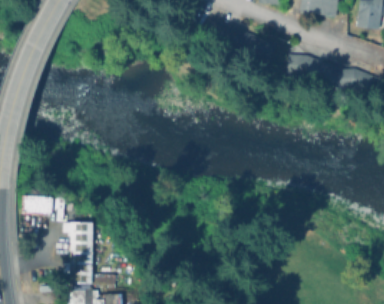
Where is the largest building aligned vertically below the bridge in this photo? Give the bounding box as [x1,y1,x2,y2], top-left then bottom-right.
[63,223,94,286]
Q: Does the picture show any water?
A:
Yes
